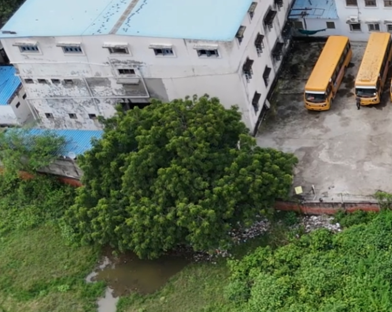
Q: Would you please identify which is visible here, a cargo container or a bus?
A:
bus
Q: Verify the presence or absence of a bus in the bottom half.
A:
No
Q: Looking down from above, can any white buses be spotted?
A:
No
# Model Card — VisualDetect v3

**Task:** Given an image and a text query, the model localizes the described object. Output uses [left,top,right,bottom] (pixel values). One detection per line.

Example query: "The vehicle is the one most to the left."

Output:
[302,37,350,107]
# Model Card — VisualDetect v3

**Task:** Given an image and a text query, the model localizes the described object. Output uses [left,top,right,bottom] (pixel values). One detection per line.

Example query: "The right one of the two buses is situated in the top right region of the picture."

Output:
[352,34,392,101]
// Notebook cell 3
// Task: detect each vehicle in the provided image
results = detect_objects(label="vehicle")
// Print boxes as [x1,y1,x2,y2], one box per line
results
[352,34,392,101]
[302,37,350,107]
